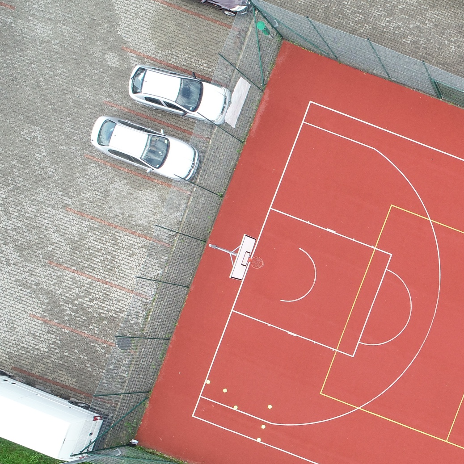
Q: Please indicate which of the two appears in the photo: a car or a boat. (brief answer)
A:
car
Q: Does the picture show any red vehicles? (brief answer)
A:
No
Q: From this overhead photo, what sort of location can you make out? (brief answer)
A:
sports ground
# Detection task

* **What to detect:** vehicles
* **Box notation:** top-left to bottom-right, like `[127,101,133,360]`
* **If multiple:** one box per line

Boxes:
[0,374,109,460]
[88,112,199,182]
[198,0,253,19]
[127,66,229,126]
